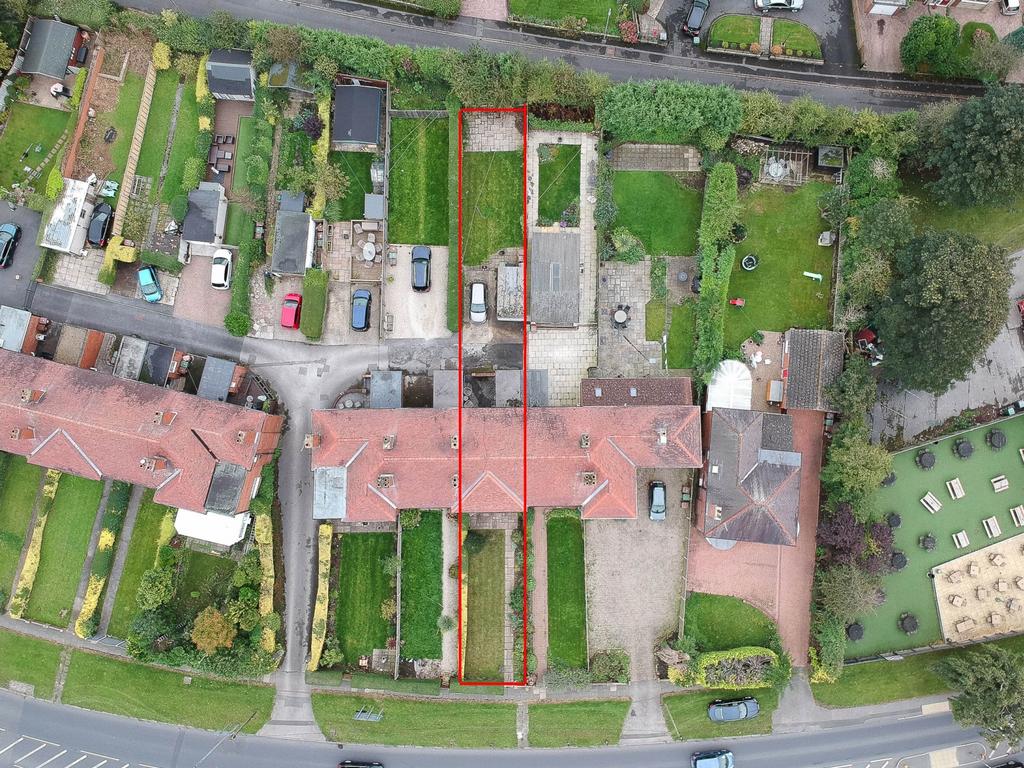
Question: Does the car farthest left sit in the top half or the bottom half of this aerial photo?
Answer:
top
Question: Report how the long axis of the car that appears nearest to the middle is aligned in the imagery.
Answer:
from top to bottom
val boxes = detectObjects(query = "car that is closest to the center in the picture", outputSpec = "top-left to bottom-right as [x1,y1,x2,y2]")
[467,281,489,323]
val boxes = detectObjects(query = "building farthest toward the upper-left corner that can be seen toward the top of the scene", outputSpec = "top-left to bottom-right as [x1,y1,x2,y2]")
[21,17,84,80]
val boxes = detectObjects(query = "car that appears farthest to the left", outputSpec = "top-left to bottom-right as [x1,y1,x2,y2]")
[0,224,24,269]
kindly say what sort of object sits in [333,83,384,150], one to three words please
shed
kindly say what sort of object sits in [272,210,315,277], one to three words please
building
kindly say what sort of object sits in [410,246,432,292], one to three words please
car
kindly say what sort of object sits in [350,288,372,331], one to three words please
car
